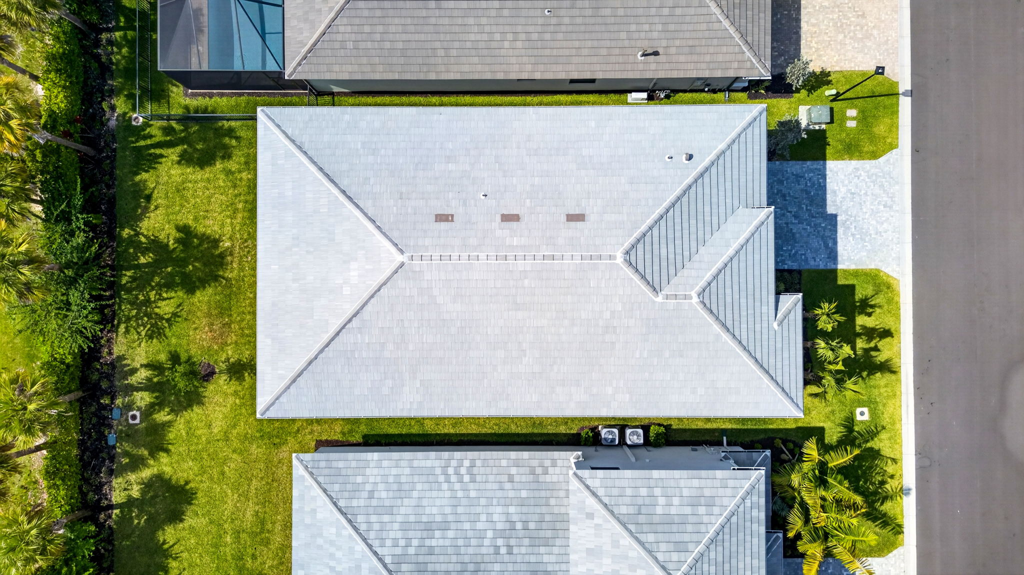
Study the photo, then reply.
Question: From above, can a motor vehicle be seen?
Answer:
No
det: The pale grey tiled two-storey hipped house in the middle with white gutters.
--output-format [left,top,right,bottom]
[257,105,804,418]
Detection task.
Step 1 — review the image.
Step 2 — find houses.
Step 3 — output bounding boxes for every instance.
[284,0,773,100]
[291,436,784,575]
[257,105,804,418]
